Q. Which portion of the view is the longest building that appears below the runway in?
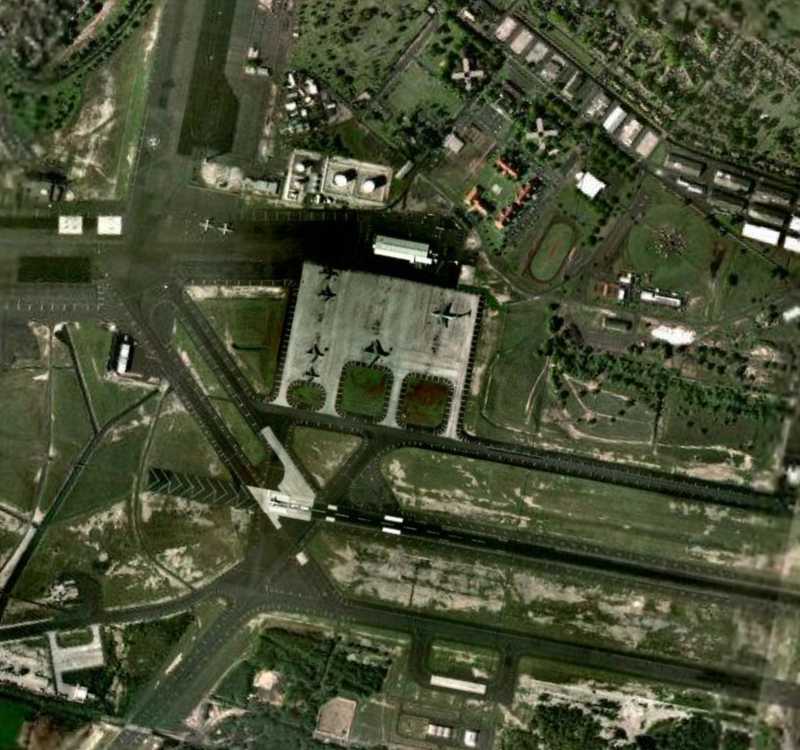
bottom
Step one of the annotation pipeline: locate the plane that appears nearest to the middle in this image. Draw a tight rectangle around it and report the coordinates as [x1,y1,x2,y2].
[363,339,390,365]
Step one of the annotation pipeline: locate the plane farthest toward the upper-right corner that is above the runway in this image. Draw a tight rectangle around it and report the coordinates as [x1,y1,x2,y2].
[434,303,466,327]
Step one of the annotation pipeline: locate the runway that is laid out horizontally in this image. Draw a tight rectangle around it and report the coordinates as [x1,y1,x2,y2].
[243,426,800,609]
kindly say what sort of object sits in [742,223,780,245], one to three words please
shed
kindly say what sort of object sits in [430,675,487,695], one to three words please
building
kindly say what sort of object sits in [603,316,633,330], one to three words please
hangar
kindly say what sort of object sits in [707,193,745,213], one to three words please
shed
